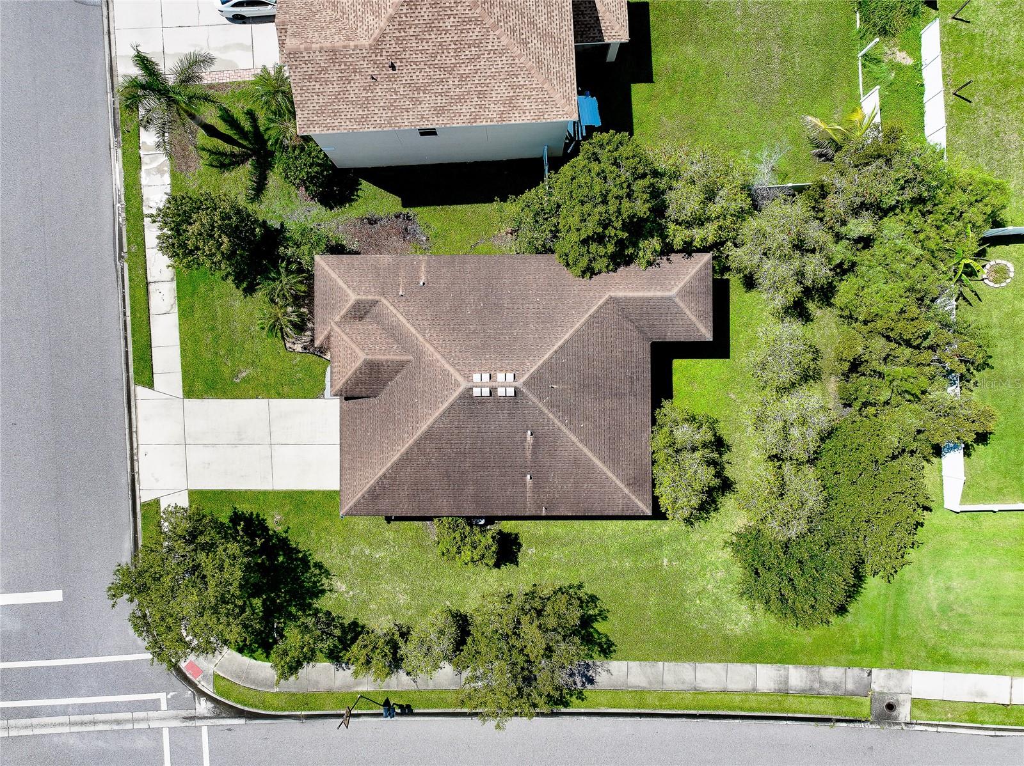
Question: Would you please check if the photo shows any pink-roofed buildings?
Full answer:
No, there isn't any pink-roofed building down there.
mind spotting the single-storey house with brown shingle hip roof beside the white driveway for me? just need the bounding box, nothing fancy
[314,254,713,517]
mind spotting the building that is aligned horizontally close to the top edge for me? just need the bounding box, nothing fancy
[272,0,631,167]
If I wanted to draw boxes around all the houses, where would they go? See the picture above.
[272,0,631,167]
[314,254,713,517]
